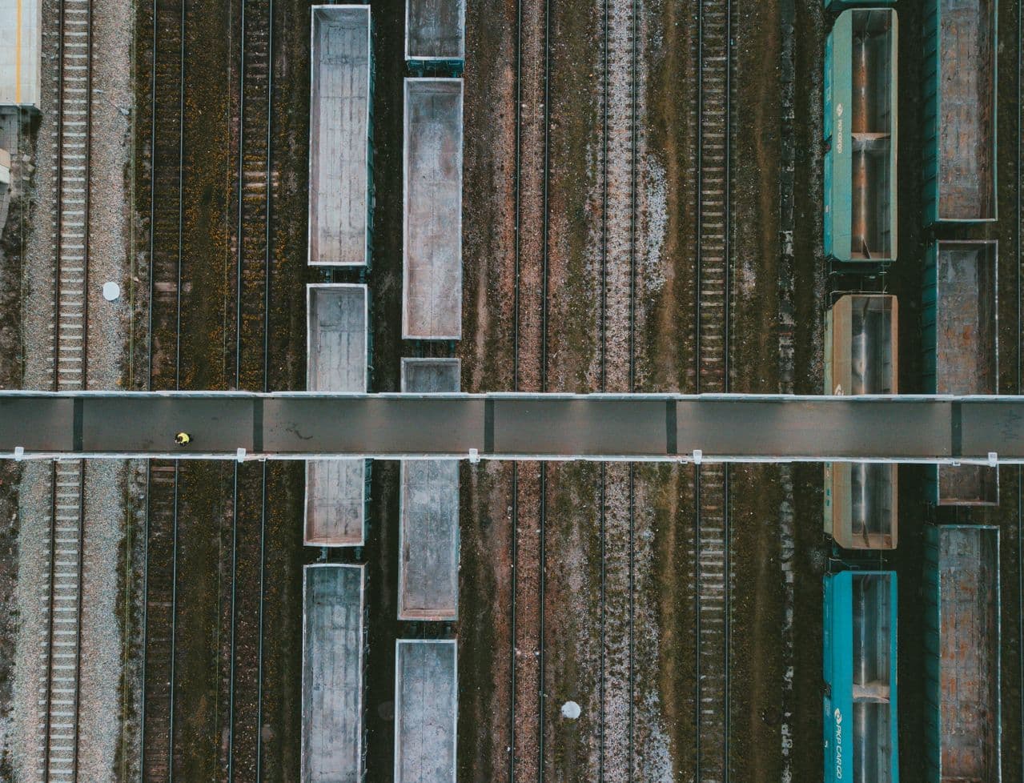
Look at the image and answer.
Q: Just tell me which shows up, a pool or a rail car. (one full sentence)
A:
The image shows a rail car.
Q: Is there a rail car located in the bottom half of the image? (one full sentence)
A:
Yes, I can see a rail car in the bottom half of the image.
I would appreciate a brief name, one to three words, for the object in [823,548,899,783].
rail car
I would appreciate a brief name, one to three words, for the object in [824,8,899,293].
rail car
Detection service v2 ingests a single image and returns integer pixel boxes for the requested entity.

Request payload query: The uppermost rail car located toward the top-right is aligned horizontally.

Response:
[826,0,880,21]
